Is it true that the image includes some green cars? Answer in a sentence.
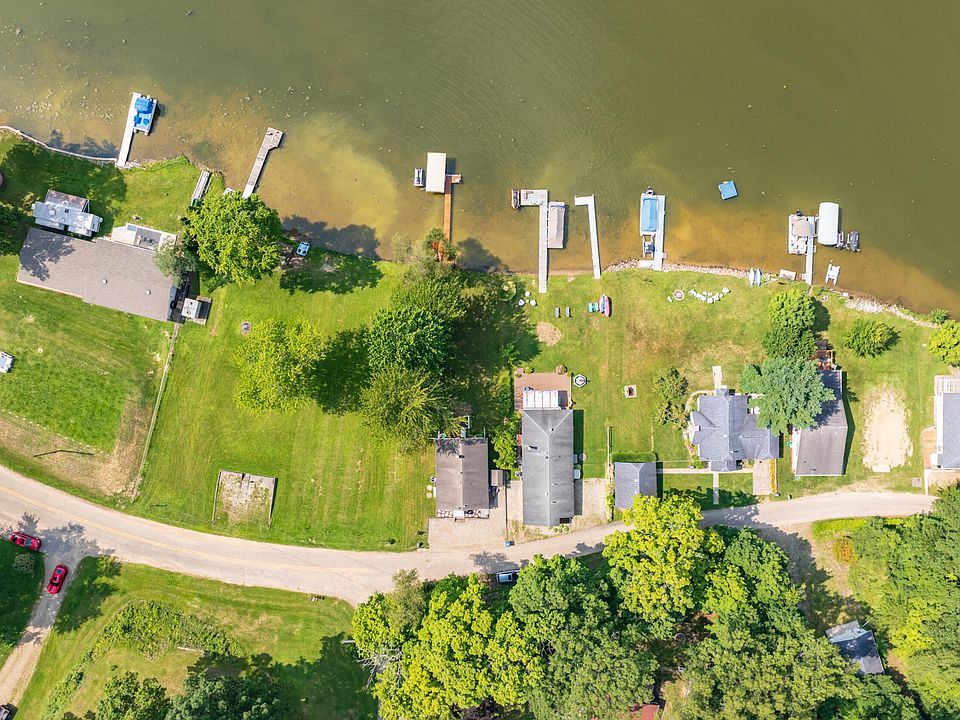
No, the frame has no green car in it.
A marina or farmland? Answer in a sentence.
The area seen from above is a marina.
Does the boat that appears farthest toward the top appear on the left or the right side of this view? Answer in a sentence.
The boat that appears farthest toward the top appears in the left half of the scene.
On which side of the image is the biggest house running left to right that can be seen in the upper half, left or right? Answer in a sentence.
The biggest house running left to right that can be seen in the upper half is on the left side of the image.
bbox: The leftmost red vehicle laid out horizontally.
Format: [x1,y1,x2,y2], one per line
[6,532,40,552]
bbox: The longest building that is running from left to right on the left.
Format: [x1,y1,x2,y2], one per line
[18,230,192,324]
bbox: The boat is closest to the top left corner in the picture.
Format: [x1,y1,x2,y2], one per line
[133,95,160,137]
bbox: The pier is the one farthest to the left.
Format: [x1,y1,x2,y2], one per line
[116,93,140,167]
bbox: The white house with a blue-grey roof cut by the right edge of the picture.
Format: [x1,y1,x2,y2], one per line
[921,376,960,469]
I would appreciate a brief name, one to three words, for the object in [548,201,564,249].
boat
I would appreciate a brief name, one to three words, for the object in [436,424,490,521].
house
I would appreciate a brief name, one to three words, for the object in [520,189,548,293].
pier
